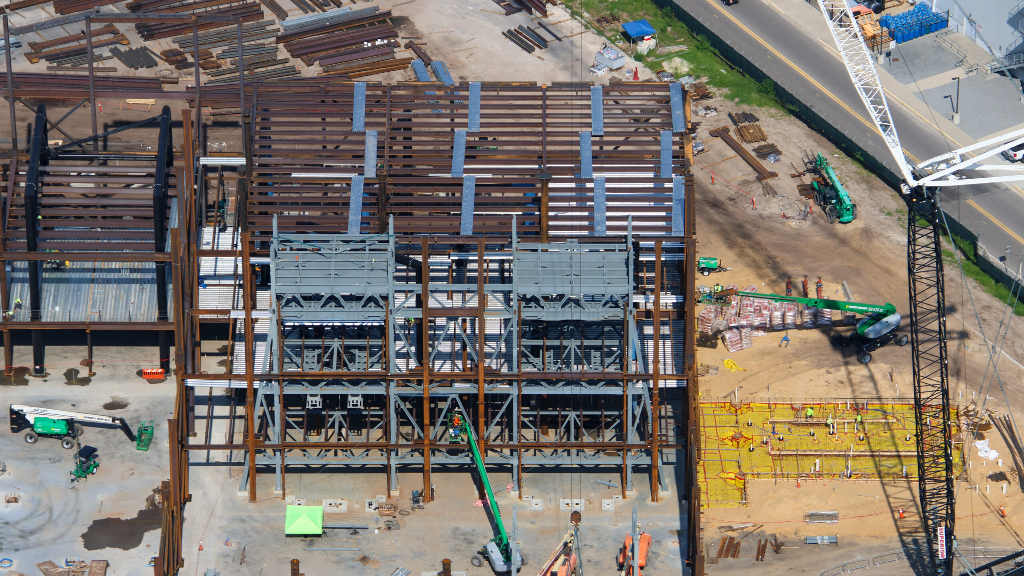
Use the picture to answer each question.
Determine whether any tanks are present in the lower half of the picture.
No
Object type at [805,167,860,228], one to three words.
work vehicle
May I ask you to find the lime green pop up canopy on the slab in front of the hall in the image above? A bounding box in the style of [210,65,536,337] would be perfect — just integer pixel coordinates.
[285,505,324,555]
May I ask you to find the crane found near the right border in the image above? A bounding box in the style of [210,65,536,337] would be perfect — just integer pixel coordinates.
[808,0,1024,576]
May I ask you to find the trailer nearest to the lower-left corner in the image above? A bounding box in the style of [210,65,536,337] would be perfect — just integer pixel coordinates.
[66,434,98,481]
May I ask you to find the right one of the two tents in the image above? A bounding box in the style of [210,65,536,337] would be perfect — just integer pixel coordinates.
[622,20,656,58]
